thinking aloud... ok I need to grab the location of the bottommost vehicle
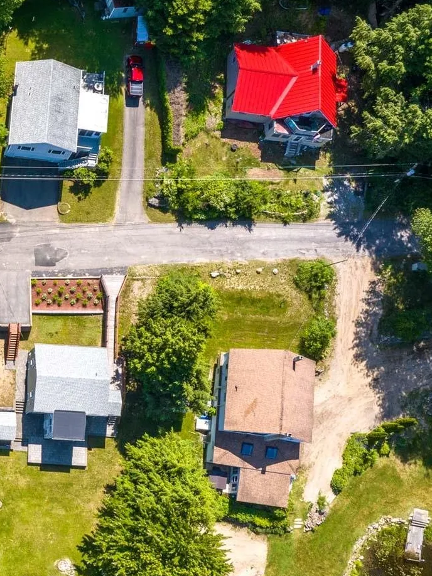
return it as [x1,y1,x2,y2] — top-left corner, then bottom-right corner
[126,54,147,99]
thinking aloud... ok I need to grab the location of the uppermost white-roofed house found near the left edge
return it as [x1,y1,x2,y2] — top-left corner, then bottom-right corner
[7,58,108,179]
